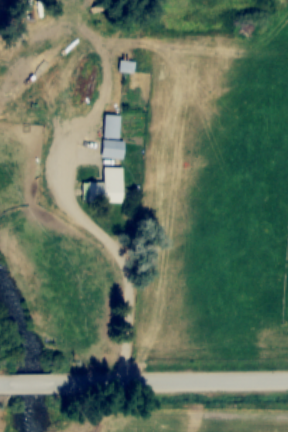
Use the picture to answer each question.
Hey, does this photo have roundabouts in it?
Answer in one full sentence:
No, there appears to be no roundabout in this shot.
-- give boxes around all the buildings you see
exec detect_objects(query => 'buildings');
[103,139,126,159]
[84,167,126,202]
[105,114,122,138]
[120,60,136,72]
